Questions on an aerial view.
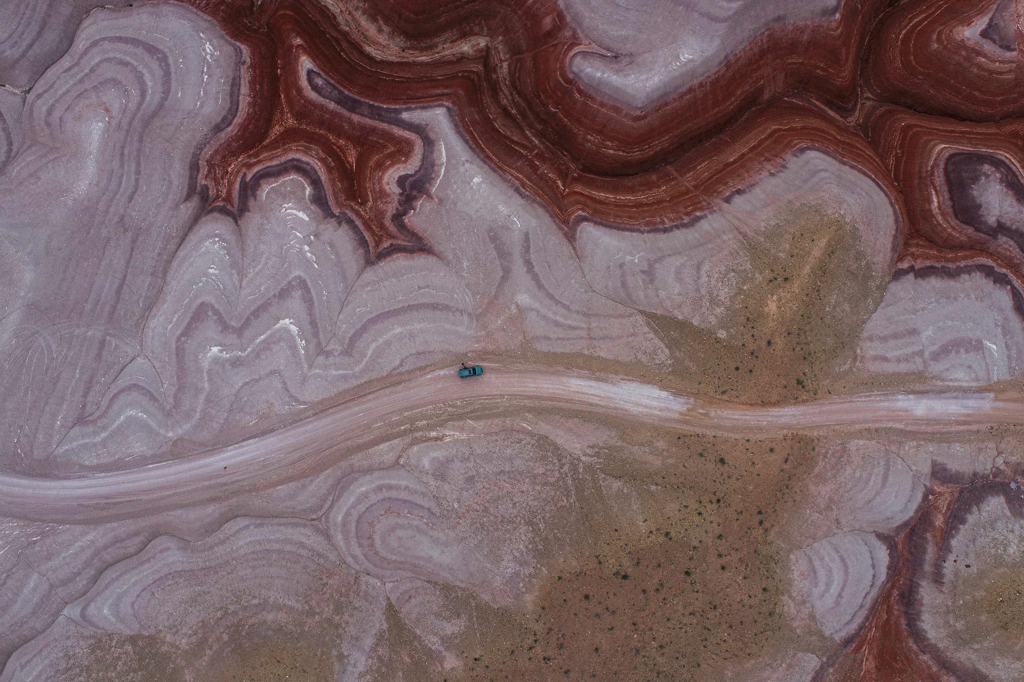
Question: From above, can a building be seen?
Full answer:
No, there appears to be no building in this shot.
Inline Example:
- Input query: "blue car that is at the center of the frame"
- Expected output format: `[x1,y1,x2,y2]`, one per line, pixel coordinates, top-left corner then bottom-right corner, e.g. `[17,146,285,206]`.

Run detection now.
[457,366,482,379]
